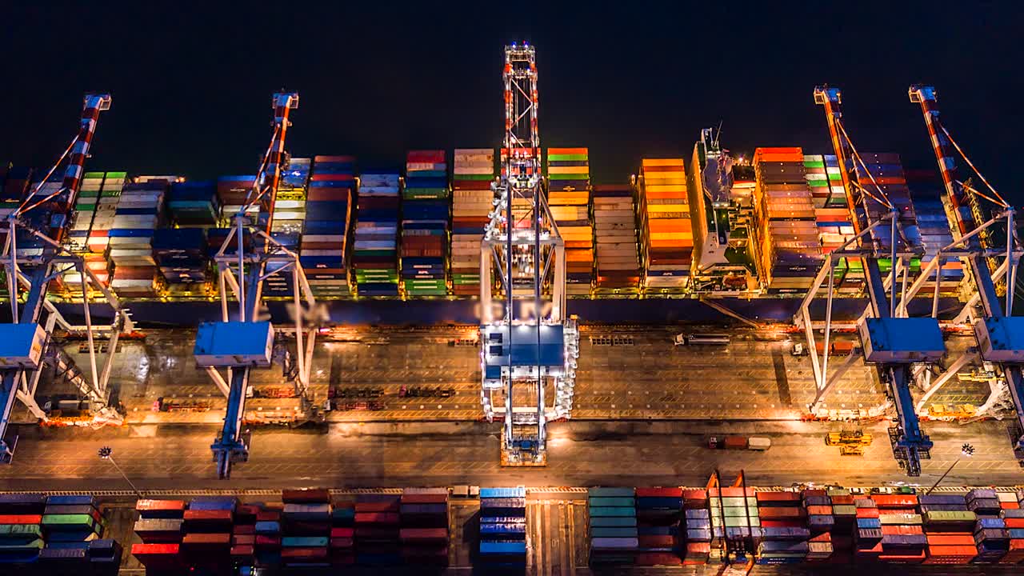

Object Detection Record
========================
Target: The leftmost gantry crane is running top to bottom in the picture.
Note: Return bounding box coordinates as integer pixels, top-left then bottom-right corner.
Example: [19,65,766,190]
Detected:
[0,86,144,481]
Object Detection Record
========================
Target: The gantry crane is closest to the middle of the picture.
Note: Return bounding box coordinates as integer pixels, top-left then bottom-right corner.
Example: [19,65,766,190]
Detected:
[467,47,578,465]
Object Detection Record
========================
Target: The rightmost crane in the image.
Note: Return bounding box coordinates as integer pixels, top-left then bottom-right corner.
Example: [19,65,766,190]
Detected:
[898,86,1024,481]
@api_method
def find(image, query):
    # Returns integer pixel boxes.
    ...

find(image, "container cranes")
[185,86,334,481]
[467,47,578,465]
[0,86,144,481]
[781,86,947,481]
[898,86,1024,481]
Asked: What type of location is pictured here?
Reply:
port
